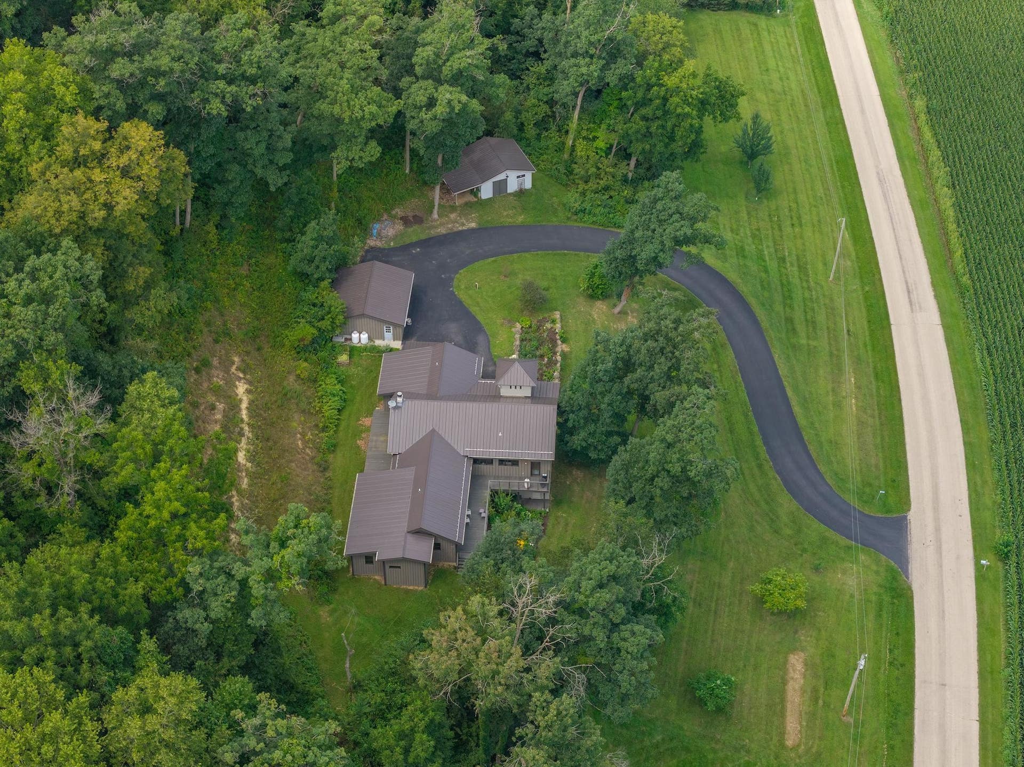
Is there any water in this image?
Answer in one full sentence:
No, there is no water in the image.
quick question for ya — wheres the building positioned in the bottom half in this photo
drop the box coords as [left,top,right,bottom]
[343,341,558,585]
